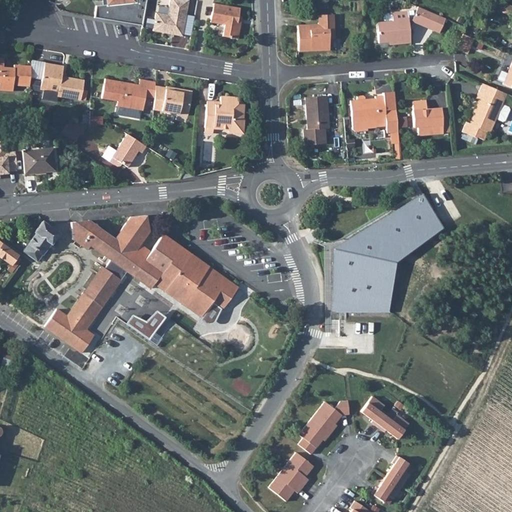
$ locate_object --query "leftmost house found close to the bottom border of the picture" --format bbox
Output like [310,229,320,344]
[267,452,314,502]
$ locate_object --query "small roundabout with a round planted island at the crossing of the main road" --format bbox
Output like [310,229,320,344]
[244,168,297,220]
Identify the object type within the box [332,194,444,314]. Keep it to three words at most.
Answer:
building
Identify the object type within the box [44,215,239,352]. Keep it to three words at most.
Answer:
building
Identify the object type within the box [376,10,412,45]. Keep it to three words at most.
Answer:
house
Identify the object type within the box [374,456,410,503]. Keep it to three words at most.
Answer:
house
